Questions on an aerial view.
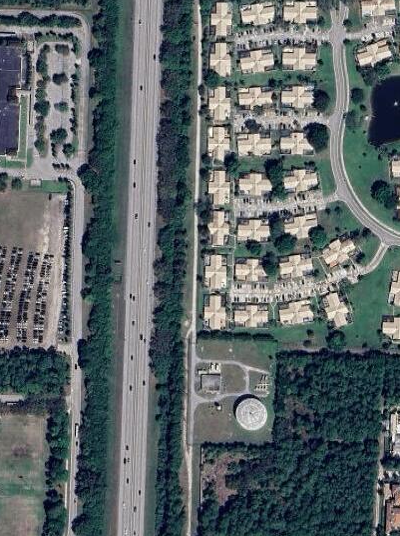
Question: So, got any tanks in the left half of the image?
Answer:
No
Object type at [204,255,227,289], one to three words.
house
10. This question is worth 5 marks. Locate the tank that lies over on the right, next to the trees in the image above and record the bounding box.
[235,397,267,430]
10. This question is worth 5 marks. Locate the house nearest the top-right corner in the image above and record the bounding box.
[359,0,394,16]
